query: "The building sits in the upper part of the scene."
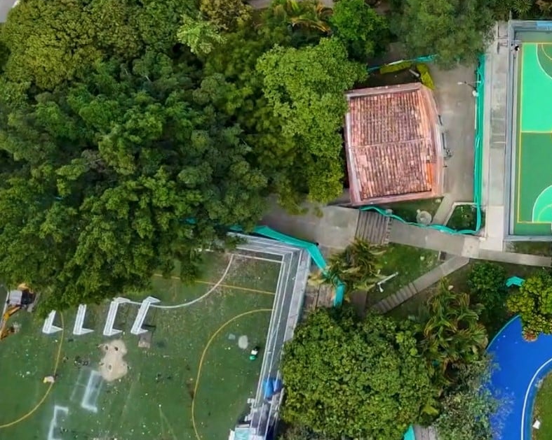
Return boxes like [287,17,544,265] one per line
[345,82,448,206]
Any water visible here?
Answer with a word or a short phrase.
No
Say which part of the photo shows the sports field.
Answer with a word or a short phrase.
bottom left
